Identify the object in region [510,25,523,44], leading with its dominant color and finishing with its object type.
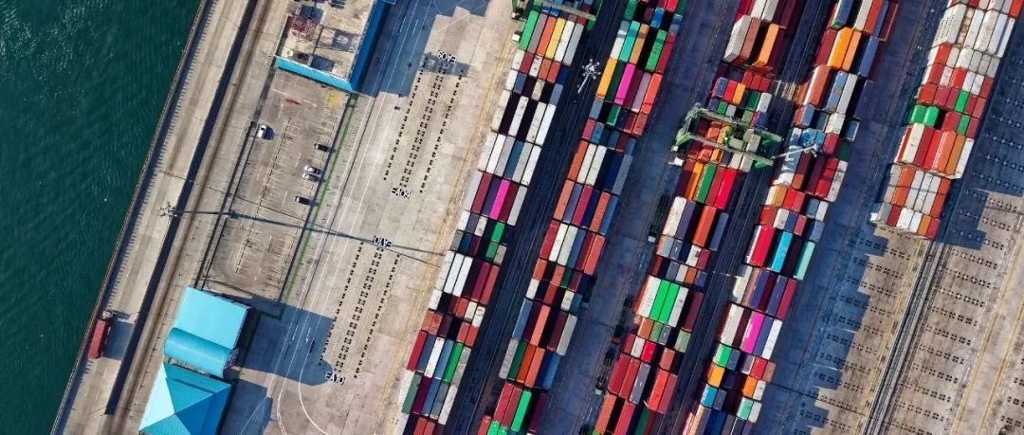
white vehicle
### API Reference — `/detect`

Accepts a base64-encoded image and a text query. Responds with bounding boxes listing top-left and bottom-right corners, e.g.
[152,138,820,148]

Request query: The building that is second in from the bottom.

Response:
[159,282,262,382]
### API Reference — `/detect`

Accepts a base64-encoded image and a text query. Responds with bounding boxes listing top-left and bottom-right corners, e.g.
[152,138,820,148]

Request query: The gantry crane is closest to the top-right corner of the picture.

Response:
[670,105,785,177]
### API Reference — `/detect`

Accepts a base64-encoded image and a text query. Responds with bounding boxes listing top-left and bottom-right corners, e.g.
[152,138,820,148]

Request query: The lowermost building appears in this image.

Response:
[139,362,234,435]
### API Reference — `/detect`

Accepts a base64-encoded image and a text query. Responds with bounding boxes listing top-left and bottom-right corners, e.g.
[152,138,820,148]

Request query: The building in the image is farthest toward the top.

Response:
[275,0,385,92]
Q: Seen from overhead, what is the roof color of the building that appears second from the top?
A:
blue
